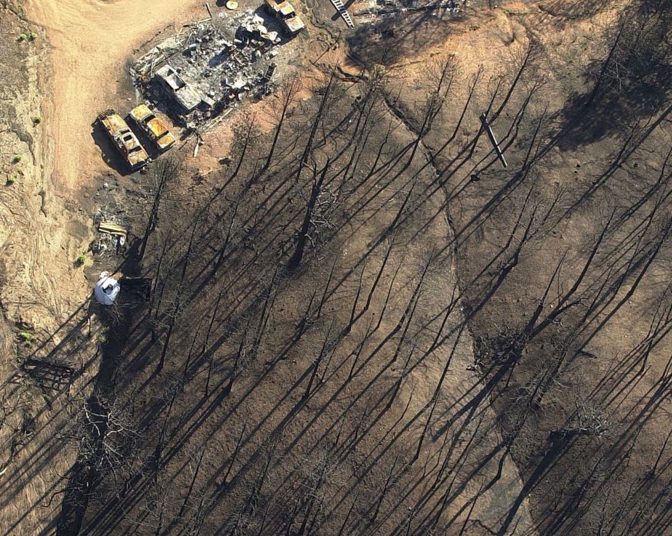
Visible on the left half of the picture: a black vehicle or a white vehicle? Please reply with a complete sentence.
The feature located on the left half of the picture is a white vehicle.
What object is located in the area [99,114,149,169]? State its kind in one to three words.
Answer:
car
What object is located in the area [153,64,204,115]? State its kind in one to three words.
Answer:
truck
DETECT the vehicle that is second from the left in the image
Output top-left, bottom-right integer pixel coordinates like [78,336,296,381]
[129,105,174,153]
